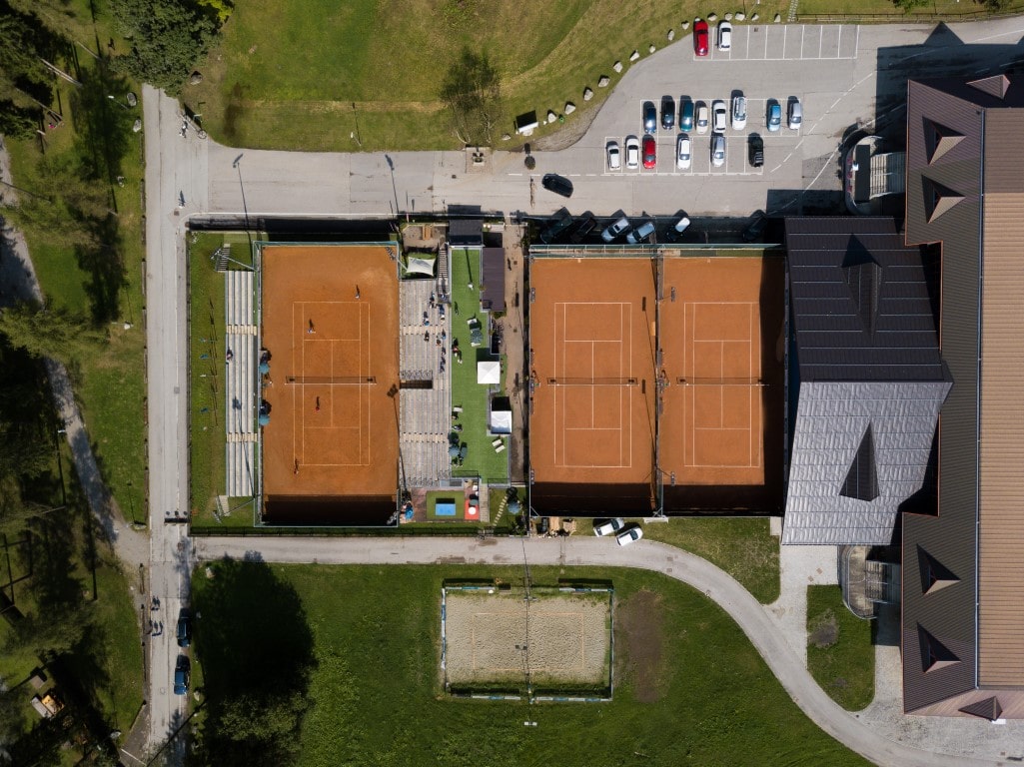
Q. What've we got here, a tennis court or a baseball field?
tennis court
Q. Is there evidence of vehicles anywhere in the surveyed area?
Yes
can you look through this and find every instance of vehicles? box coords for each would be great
[627,220,655,243]
[175,614,193,647]
[693,21,710,57]
[695,105,711,132]
[642,139,657,168]
[665,214,691,241]
[675,135,692,168]
[642,102,658,132]
[613,523,646,549]
[605,142,620,169]
[660,98,676,127]
[717,22,731,51]
[602,216,630,240]
[593,518,626,538]
[542,175,575,196]
[747,135,765,168]
[679,97,695,131]
[712,101,728,134]
[766,103,782,132]
[730,93,748,130]
[787,99,803,130]
[710,134,727,168]
[173,662,190,695]
[624,137,640,169]
[569,215,598,244]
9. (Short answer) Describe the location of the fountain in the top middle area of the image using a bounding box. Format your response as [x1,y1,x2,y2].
[469,144,486,165]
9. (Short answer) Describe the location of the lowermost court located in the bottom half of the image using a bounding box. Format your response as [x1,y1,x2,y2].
[446,596,606,683]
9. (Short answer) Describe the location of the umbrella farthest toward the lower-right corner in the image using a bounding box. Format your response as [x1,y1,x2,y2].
[507,503,521,516]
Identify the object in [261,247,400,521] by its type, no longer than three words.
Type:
tennis court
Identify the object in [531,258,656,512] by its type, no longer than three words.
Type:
tennis court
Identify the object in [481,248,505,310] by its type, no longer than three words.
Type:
building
